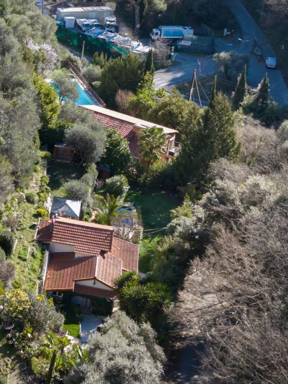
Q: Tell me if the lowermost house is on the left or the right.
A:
left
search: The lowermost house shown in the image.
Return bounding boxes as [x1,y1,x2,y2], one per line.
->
[35,214,142,308]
